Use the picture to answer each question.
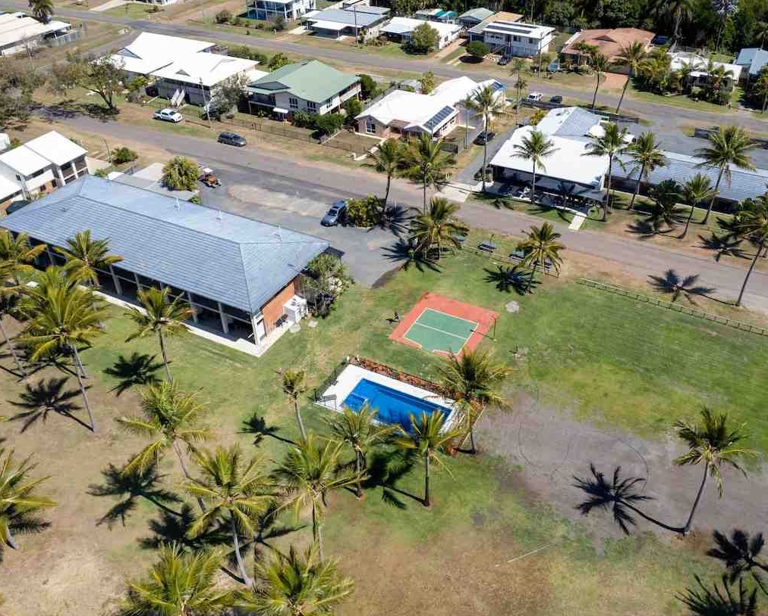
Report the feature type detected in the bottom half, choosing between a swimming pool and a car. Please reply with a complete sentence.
The feature located in the bottom half is a swimming pool.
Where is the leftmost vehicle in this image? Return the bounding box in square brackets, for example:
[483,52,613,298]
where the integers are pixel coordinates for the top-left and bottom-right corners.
[153,107,182,122]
